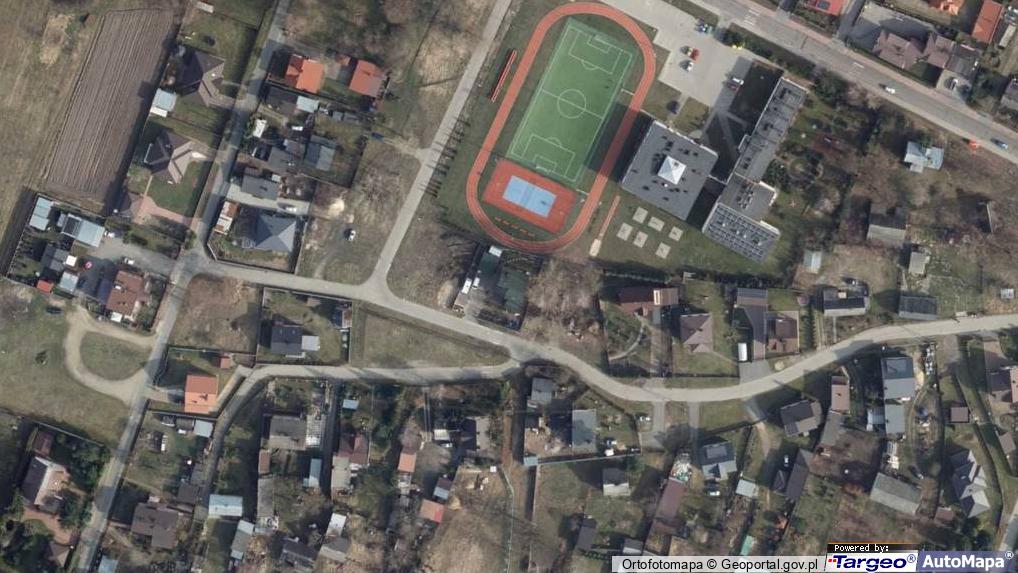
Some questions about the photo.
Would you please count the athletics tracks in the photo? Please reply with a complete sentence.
The photo contains exactly 1 athletics track.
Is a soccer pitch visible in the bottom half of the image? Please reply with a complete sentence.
No, no soccer pitch can be made out in the bottom half of the image.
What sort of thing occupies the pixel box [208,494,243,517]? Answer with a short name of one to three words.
barn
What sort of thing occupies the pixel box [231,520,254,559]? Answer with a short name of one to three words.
shed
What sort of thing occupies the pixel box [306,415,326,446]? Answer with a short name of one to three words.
greenhouse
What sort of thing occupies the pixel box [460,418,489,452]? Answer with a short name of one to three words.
house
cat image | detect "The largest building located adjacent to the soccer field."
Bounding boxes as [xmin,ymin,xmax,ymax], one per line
[622,77,811,264]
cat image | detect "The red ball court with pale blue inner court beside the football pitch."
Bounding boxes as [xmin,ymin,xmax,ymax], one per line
[483,159,577,234]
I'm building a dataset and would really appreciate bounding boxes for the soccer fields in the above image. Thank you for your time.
[506,19,640,190]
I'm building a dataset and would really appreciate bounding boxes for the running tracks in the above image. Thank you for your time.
[466,2,655,253]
